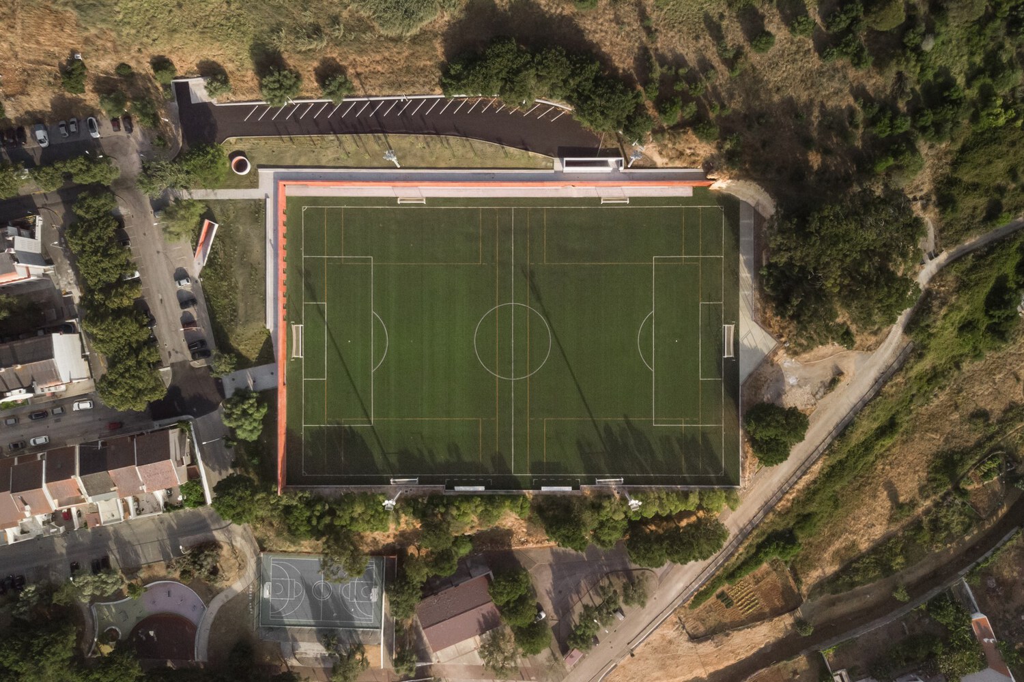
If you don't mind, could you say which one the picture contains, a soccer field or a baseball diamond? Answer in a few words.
soccer field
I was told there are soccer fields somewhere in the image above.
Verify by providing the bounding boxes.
[286,187,740,490]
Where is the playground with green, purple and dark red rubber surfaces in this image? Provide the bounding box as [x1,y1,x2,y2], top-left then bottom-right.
[93,582,201,663]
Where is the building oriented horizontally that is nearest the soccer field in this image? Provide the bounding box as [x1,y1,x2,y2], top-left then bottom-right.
[564,157,625,171]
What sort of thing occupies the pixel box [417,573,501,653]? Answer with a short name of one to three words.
building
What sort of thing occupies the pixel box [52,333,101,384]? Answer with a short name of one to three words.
house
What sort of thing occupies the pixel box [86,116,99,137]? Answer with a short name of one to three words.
vehicle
